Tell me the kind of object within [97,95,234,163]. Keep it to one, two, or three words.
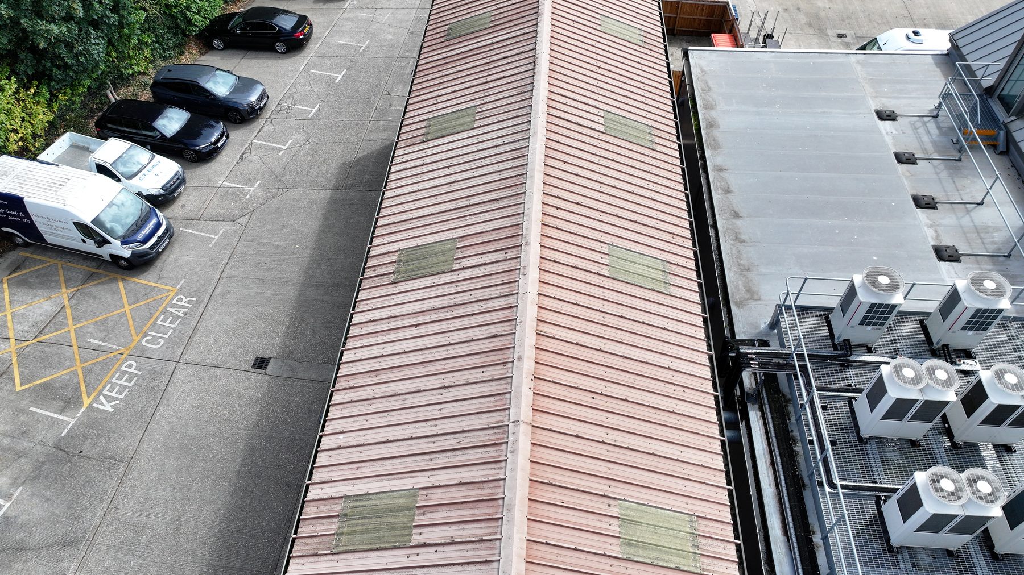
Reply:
car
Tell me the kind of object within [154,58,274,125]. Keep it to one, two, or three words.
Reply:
car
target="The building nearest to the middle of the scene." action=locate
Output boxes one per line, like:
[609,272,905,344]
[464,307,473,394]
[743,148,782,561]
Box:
[281,0,748,575]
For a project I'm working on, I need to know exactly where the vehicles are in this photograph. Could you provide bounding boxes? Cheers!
[154,58,274,125]
[198,5,313,54]
[833,26,952,54]
[0,152,179,271]
[35,134,191,208]
[97,95,234,163]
